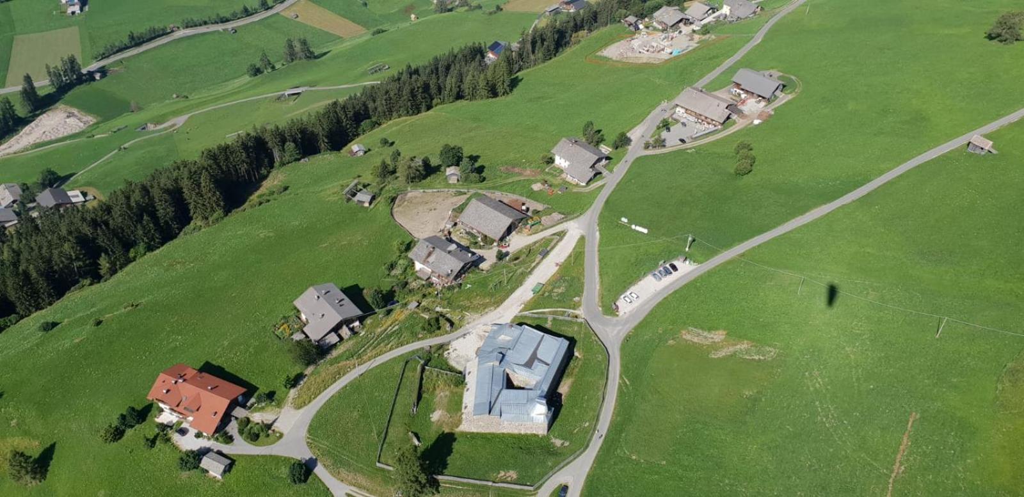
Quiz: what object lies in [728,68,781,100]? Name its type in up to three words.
barn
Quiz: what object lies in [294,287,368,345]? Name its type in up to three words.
house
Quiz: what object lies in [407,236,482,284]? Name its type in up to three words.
house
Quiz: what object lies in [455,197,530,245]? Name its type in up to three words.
barn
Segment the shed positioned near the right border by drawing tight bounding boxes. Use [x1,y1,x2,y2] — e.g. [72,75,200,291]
[966,135,996,155]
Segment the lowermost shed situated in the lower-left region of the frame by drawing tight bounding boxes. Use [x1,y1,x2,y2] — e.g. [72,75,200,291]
[201,454,234,478]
